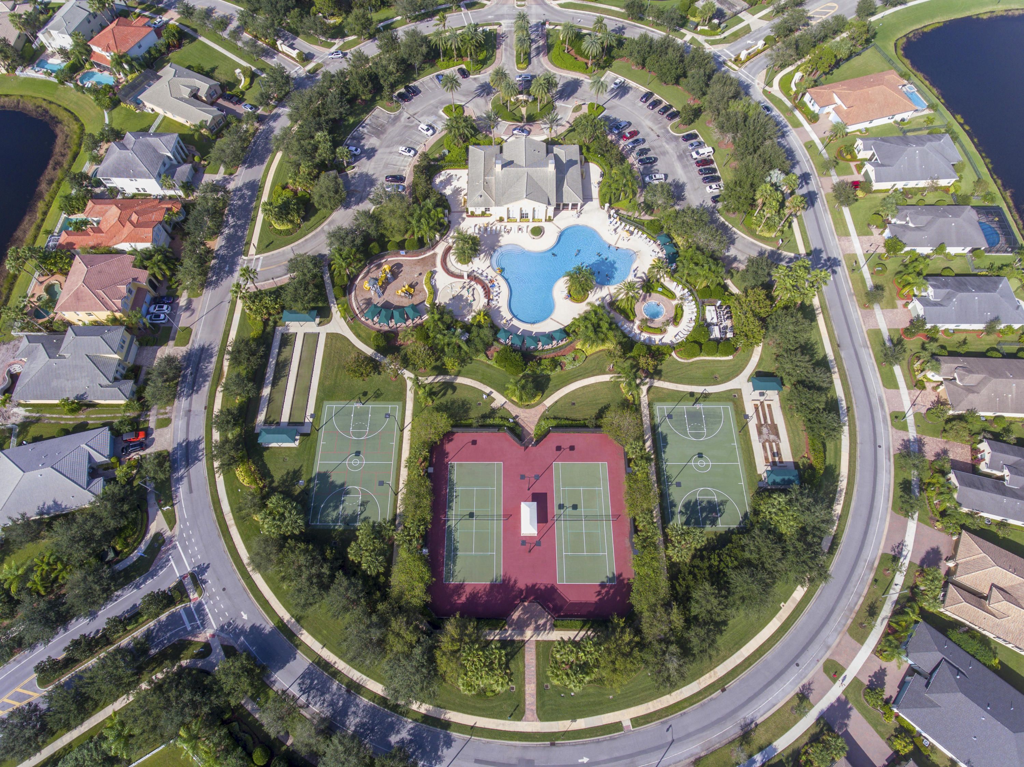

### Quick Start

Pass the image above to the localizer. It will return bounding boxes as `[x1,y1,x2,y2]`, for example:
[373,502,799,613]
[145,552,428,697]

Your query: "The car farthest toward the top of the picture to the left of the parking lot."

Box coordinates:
[151,13,167,28]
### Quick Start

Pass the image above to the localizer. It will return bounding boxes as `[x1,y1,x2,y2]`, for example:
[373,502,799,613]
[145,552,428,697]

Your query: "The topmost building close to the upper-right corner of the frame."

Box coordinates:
[802,70,924,133]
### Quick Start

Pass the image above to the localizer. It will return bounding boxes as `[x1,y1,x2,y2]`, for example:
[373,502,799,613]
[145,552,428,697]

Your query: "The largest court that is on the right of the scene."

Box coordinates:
[653,402,755,531]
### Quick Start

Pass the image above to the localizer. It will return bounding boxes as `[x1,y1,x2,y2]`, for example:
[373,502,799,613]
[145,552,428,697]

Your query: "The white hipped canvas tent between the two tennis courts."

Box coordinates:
[521,502,537,536]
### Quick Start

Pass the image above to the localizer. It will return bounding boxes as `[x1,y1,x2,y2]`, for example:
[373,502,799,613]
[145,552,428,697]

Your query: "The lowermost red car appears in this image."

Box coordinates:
[125,431,146,443]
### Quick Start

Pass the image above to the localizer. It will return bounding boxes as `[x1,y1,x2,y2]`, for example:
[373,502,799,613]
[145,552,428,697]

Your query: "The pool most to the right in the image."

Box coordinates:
[978,220,1001,246]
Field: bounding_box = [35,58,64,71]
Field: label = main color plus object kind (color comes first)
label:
blue swimming pool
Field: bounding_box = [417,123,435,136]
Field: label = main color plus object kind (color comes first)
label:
white vehicle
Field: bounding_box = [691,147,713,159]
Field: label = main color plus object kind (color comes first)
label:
white vehicle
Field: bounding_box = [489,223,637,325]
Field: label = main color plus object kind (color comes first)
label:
blue swimming pool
